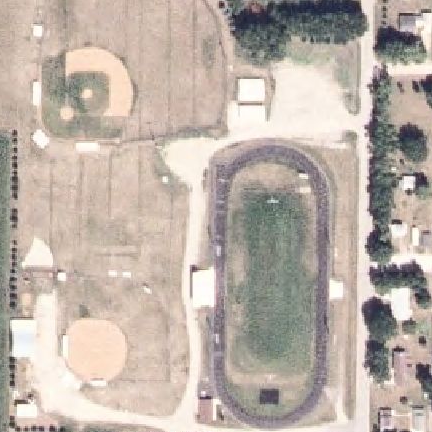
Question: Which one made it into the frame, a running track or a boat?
running track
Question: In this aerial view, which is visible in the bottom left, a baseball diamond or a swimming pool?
baseball diamond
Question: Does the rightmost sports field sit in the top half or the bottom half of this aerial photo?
bottom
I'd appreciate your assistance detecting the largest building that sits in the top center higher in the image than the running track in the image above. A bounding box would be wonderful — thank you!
[240,78,266,103]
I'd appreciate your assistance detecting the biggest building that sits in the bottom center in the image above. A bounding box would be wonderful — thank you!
[199,398,213,423]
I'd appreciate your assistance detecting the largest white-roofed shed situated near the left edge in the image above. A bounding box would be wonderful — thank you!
[11,320,36,357]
